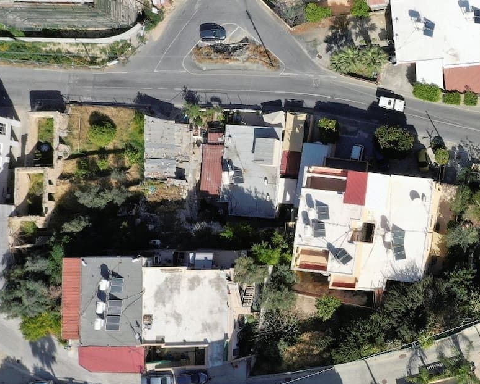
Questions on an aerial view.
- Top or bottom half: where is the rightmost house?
top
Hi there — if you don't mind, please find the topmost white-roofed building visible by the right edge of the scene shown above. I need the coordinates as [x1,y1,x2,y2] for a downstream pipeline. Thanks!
[392,0,480,89]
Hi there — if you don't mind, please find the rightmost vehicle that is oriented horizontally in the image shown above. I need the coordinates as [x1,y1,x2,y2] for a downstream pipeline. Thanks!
[377,94,406,110]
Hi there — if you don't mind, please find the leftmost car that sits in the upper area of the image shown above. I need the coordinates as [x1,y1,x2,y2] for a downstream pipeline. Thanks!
[199,26,225,41]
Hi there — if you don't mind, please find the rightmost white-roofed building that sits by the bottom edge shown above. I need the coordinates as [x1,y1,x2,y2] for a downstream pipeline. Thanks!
[143,266,251,370]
